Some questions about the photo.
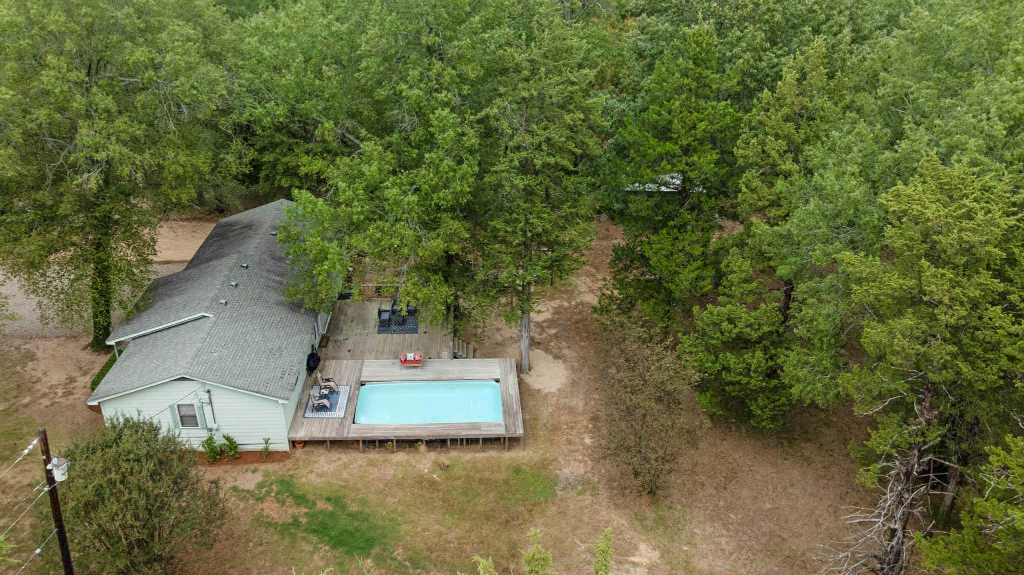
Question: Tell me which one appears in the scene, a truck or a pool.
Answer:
pool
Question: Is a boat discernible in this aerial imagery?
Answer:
No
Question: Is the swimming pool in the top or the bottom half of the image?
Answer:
bottom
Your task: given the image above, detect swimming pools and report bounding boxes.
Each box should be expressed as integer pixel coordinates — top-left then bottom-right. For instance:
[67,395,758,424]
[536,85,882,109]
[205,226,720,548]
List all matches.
[352,379,504,441]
